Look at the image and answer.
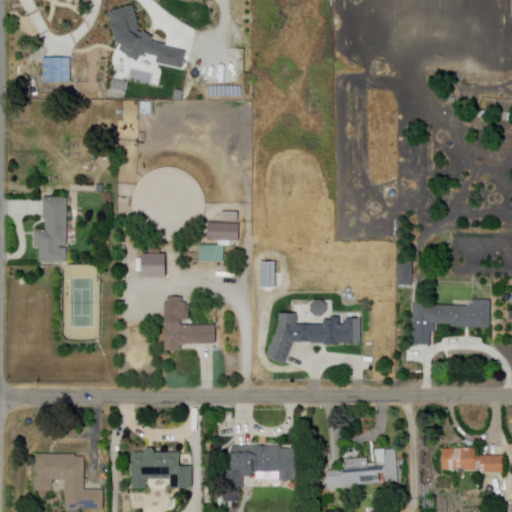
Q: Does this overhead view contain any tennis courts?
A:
Yes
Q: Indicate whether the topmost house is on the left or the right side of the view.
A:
left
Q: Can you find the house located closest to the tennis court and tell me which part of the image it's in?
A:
left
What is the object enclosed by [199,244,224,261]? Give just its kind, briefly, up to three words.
barn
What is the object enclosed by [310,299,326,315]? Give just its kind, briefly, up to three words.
gazebo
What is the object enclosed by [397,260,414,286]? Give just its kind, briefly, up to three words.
building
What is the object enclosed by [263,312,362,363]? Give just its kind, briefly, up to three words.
house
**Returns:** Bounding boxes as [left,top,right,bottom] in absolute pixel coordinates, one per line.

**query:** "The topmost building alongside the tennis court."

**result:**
[33,196,66,262]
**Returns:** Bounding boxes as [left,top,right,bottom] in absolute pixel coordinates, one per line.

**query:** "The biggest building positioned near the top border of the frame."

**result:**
[109,6,186,66]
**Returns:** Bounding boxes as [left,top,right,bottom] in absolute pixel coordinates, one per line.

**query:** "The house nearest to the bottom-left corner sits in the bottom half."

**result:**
[34,454,103,510]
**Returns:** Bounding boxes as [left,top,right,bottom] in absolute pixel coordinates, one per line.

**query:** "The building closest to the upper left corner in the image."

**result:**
[42,56,70,82]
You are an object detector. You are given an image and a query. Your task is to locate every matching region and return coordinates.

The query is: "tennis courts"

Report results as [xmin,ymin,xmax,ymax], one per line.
[63,264,101,340]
